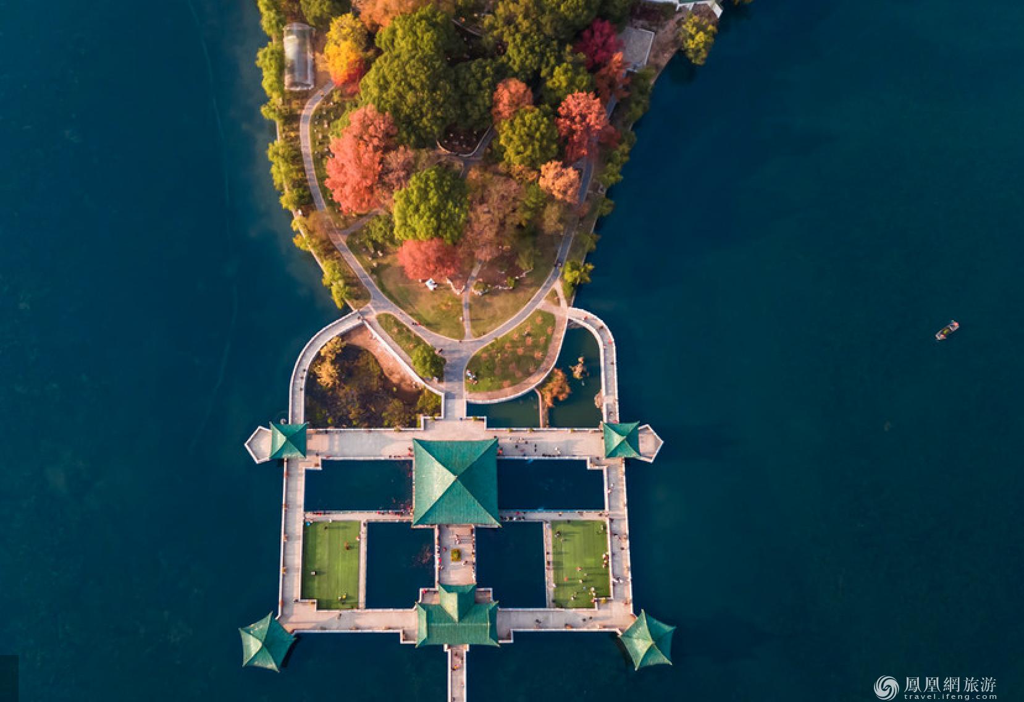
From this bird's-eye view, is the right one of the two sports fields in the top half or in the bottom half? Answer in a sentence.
The bottom half of the photo is where the right one of the two sports fields is.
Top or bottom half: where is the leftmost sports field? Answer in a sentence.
Seen from above, the leftmost sports field lies in the bottom half of the view.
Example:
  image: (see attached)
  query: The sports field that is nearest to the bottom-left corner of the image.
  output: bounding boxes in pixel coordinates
[300,521,360,609]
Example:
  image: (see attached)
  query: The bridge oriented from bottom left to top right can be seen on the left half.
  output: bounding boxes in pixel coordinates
[288,309,364,423]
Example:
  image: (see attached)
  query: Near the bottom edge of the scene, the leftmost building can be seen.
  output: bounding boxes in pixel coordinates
[238,610,298,673]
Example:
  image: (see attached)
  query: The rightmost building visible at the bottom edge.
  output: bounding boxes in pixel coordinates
[619,607,678,672]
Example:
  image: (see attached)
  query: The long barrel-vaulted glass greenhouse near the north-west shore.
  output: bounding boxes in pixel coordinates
[284,18,315,92]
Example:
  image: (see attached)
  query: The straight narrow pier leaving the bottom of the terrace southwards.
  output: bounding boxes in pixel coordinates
[444,647,469,702]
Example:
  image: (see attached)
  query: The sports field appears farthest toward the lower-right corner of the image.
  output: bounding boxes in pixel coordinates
[552,520,612,608]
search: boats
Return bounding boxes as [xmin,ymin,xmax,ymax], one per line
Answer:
[936,322,960,340]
